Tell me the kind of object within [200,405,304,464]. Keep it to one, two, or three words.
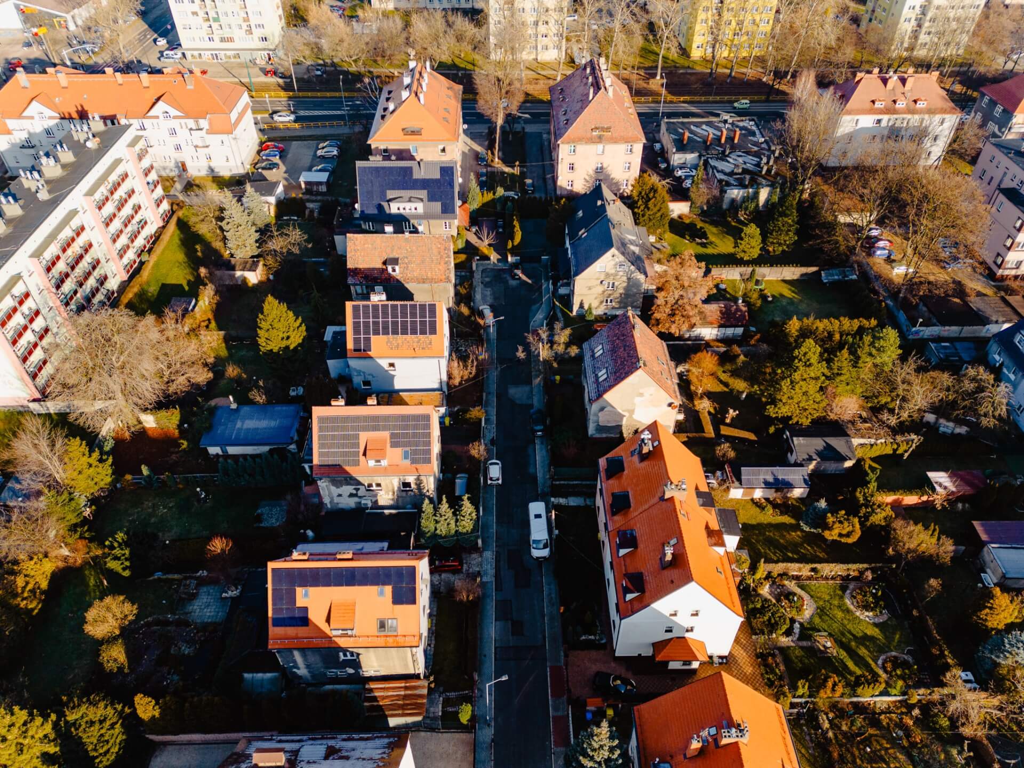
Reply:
shed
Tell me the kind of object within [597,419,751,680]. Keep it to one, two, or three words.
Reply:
house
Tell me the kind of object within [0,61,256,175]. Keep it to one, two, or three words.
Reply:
building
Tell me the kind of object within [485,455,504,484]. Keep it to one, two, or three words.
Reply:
car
